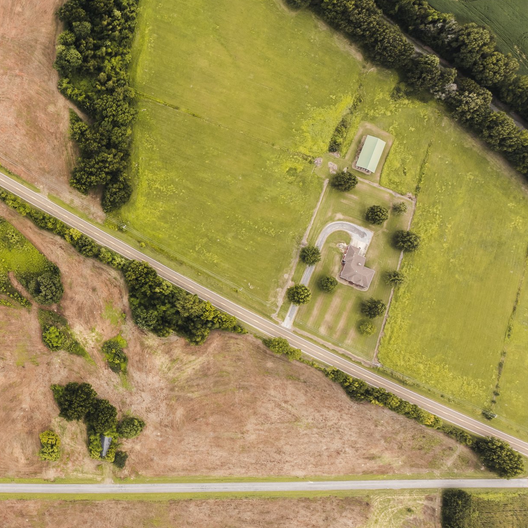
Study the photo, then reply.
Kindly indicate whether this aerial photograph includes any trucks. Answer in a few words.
No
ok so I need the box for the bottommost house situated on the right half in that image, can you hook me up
[338,245,376,288]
